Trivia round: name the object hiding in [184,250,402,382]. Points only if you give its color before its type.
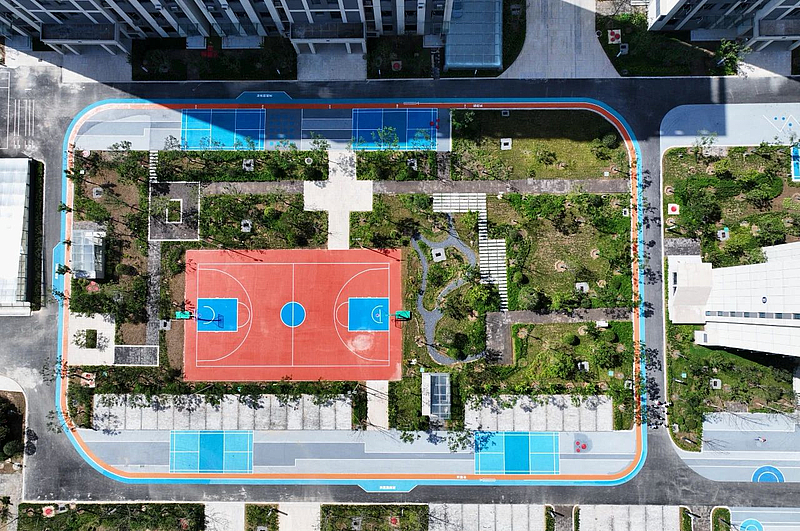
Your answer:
red basketball court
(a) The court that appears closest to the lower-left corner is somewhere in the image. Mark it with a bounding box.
[170,430,253,473]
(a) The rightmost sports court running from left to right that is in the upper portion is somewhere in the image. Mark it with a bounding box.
[352,109,438,151]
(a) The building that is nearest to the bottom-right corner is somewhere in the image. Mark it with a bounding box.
[666,241,800,361]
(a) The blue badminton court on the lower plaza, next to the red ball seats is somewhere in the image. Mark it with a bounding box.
[474,431,559,474]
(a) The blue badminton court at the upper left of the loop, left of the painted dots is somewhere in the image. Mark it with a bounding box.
[181,109,266,151]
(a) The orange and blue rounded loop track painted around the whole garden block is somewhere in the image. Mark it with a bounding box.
[52,91,647,493]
